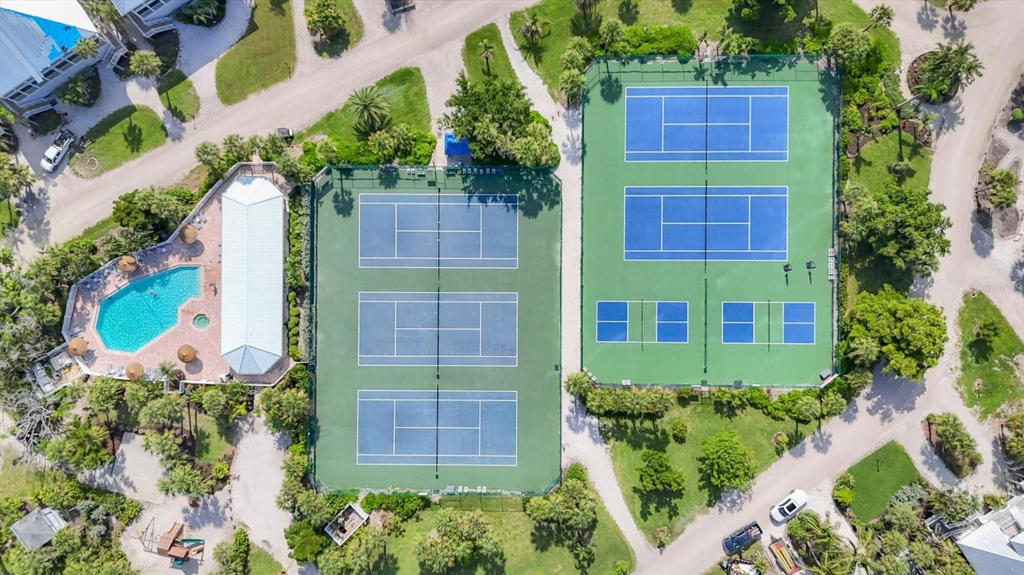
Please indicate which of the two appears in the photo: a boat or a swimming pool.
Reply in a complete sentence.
Looking from above, you can make out a swimming pool.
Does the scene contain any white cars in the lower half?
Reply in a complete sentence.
Yes, a white car can be seen in the lower half.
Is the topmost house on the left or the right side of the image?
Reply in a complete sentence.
It is on the left.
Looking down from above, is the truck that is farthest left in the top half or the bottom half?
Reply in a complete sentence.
The truck that is farthest left sits in the top half of the picture.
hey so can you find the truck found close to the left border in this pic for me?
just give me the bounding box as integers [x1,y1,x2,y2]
[43,130,80,172]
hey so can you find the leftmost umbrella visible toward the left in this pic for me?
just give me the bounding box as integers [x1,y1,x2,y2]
[70,338,88,356]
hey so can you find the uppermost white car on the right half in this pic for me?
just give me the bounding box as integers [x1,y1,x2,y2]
[766,488,808,519]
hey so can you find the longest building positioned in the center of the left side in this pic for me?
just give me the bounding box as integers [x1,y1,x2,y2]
[220,177,289,374]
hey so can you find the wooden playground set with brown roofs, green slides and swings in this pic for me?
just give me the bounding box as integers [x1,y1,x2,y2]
[138,518,205,569]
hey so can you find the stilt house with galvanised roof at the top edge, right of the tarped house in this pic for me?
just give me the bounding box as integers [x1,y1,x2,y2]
[112,0,189,40]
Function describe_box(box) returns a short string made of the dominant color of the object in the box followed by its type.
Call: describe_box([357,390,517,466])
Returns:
blue tennis court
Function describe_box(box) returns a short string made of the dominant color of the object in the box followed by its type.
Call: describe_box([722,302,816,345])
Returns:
blue sports court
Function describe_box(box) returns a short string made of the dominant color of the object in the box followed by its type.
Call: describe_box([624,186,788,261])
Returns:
blue tennis court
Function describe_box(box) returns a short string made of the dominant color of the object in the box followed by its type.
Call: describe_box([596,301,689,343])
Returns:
blue sports court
